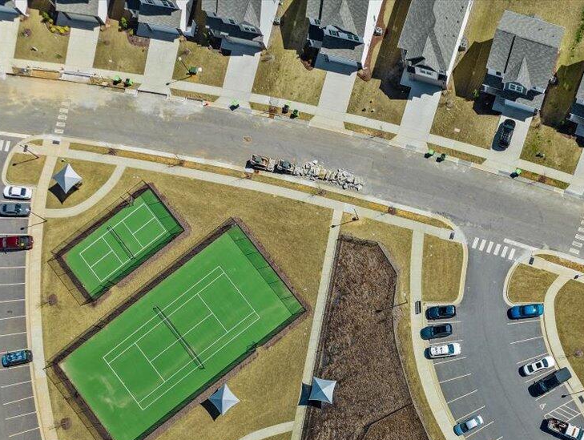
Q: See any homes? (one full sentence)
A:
Yes, the frame does contain a home.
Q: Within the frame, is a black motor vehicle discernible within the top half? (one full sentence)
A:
Yes, there is a black motor vehicle within the top half.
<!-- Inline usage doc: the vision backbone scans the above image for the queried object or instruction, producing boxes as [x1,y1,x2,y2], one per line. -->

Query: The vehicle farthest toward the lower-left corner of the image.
[0,349,33,365]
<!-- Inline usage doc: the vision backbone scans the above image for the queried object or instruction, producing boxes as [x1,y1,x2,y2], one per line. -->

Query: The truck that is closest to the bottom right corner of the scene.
[546,417,584,440]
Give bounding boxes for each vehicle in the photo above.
[0,349,33,365]
[453,415,485,436]
[431,342,462,358]
[426,305,456,320]
[531,366,576,396]
[0,201,31,216]
[509,304,544,319]
[524,356,556,376]
[546,417,584,440]
[0,235,34,251]
[499,117,516,148]
[420,324,453,340]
